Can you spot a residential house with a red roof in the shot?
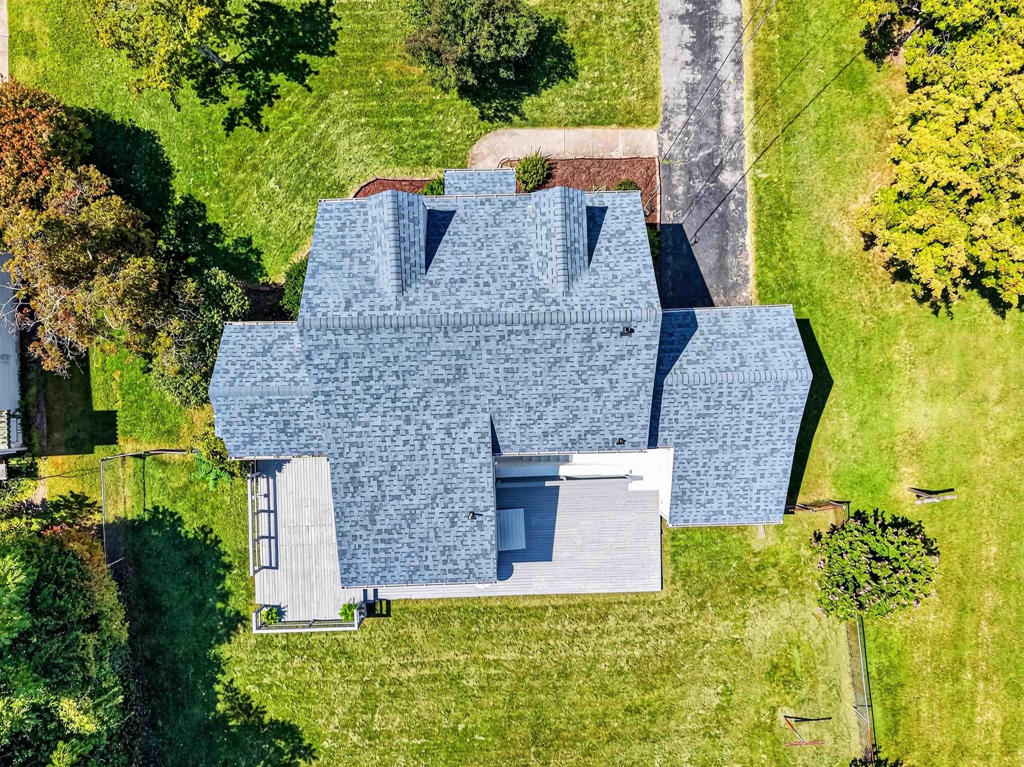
No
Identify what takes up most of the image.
grass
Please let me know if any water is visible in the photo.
No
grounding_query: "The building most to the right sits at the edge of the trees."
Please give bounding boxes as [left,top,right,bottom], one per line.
[209,167,813,586]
